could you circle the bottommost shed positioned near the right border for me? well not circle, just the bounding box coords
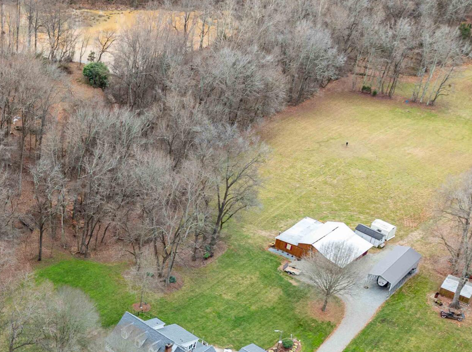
[439,275,472,305]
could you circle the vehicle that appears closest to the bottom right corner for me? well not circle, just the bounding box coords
[440,310,468,324]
